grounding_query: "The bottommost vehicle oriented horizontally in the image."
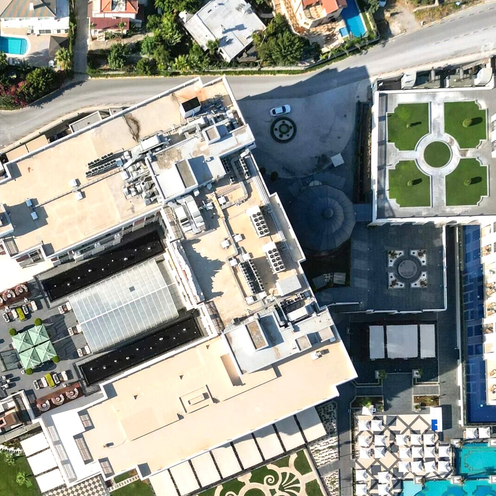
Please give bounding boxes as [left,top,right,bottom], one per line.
[269,105,291,118]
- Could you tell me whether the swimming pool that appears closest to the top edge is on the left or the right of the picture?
right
